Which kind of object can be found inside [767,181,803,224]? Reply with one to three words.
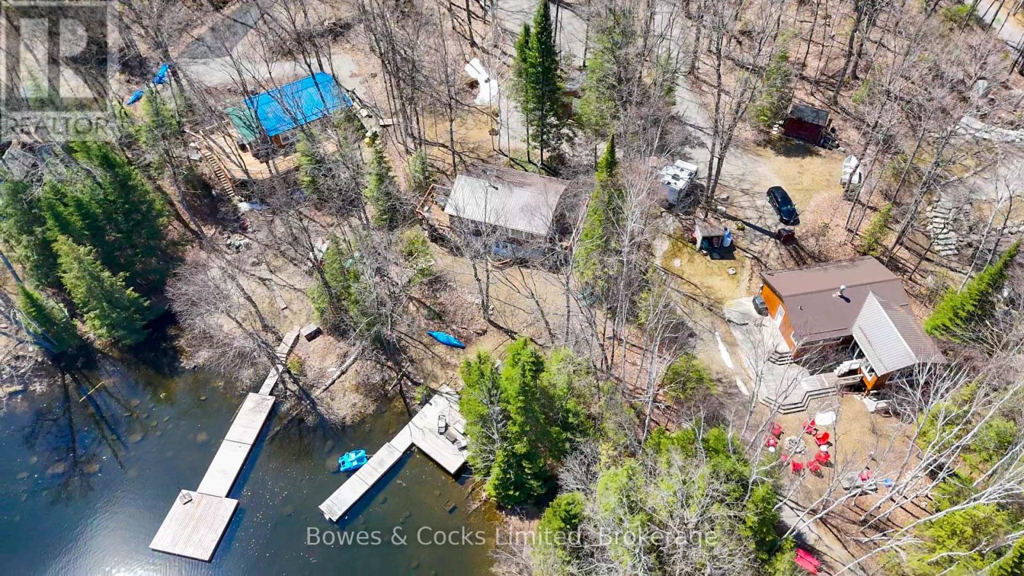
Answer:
car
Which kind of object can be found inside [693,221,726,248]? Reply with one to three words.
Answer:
shed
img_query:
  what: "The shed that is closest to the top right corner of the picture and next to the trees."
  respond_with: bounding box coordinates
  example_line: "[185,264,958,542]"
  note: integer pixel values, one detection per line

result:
[788,100,839,151]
